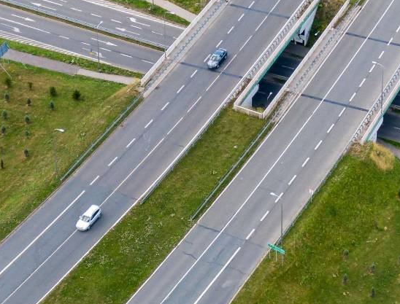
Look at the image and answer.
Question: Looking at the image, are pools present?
No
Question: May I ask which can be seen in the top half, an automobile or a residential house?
automobile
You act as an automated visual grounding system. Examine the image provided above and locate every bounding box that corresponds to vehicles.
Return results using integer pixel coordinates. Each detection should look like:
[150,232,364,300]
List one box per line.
[206,51,228,69]
[75,207,104,231]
